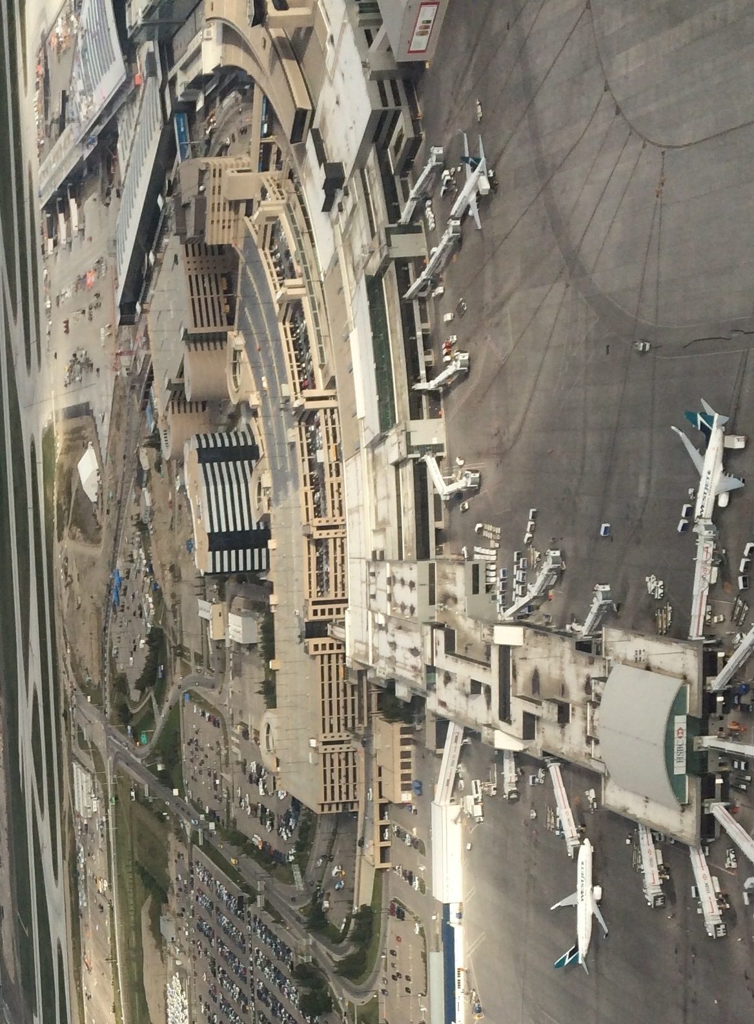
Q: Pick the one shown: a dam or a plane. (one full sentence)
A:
The one in the frame is a plane.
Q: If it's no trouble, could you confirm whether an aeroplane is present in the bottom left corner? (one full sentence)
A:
No, no aeroplane appears in the bottom left corner.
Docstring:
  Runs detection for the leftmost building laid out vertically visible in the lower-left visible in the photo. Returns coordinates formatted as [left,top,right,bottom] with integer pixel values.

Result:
[73,764,99,817]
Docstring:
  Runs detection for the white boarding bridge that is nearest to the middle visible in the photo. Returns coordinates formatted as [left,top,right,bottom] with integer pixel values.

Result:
[424,451,488,496]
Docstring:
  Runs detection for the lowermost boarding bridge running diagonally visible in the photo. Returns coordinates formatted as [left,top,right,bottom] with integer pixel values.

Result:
[710,801,754,865]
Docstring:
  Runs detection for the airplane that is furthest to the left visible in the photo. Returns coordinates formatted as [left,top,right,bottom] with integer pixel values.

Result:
[453,127,485,231]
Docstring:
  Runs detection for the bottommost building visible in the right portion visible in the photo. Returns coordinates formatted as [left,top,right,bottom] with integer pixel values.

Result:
[428,902,480,1024]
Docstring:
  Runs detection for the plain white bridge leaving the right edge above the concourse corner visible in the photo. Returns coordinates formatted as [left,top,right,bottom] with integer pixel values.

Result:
[712,632,754,695]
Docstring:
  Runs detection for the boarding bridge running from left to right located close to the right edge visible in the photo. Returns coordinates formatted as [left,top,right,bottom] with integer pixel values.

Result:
[697,735,754,757]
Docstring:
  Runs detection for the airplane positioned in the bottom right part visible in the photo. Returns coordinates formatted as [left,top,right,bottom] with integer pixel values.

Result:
[546,841,603,967]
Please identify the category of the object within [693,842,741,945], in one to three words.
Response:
jet bridge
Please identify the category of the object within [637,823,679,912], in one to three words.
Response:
jet bridge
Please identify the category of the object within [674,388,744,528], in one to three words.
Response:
airplane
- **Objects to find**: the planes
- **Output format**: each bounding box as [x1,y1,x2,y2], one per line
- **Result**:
[546,841,603,967]
[674,388,744,528]
[453,127,485,231]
